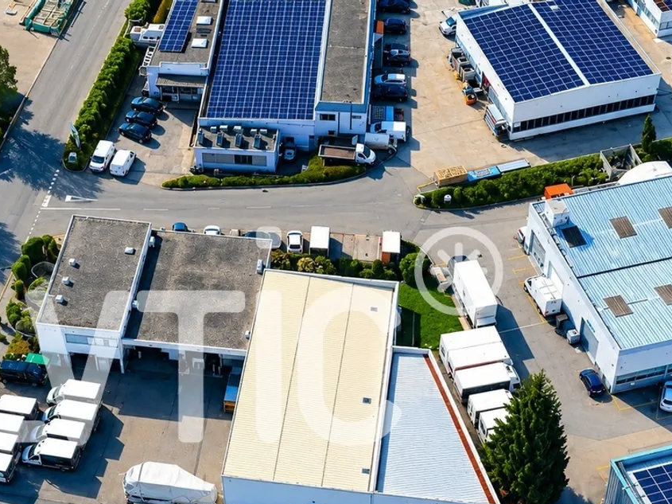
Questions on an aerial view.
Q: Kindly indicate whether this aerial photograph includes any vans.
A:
Yes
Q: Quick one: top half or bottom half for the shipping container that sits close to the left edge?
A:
top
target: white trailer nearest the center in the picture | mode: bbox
[310,220,330,258]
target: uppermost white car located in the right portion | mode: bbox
[435,11,456,34]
